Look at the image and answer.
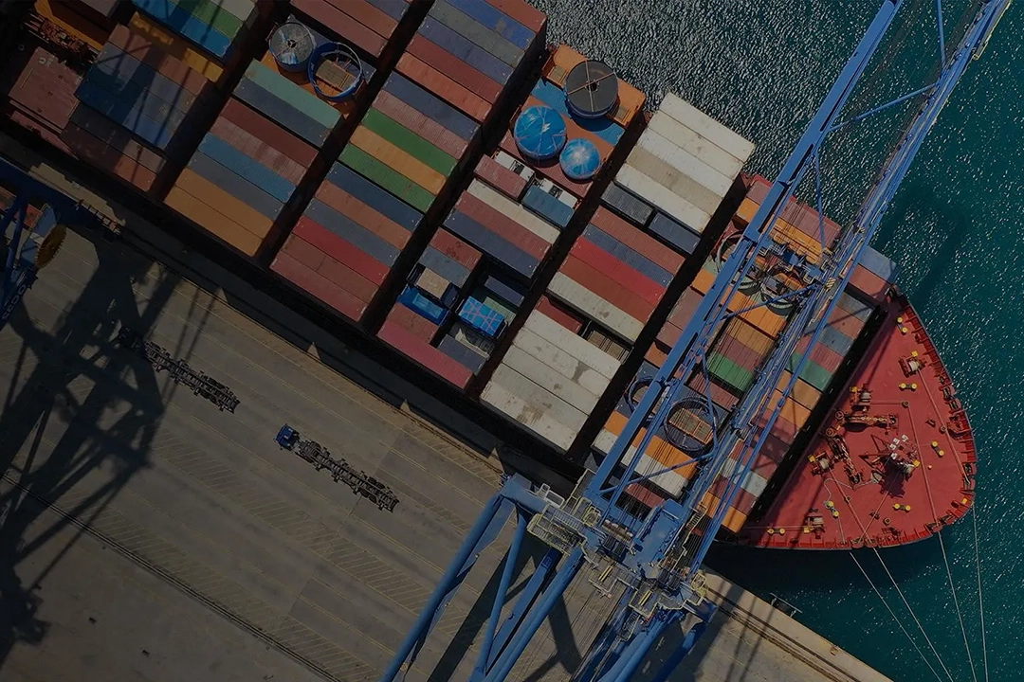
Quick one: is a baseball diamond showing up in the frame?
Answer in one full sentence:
No, the scene contains no baseball diamond.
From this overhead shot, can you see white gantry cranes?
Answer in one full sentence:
No, there is no white gantry crane in the image.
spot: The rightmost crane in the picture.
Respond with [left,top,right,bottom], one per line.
[381,0,1017,682]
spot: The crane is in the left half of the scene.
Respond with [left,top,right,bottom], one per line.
[0,151,157,329]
